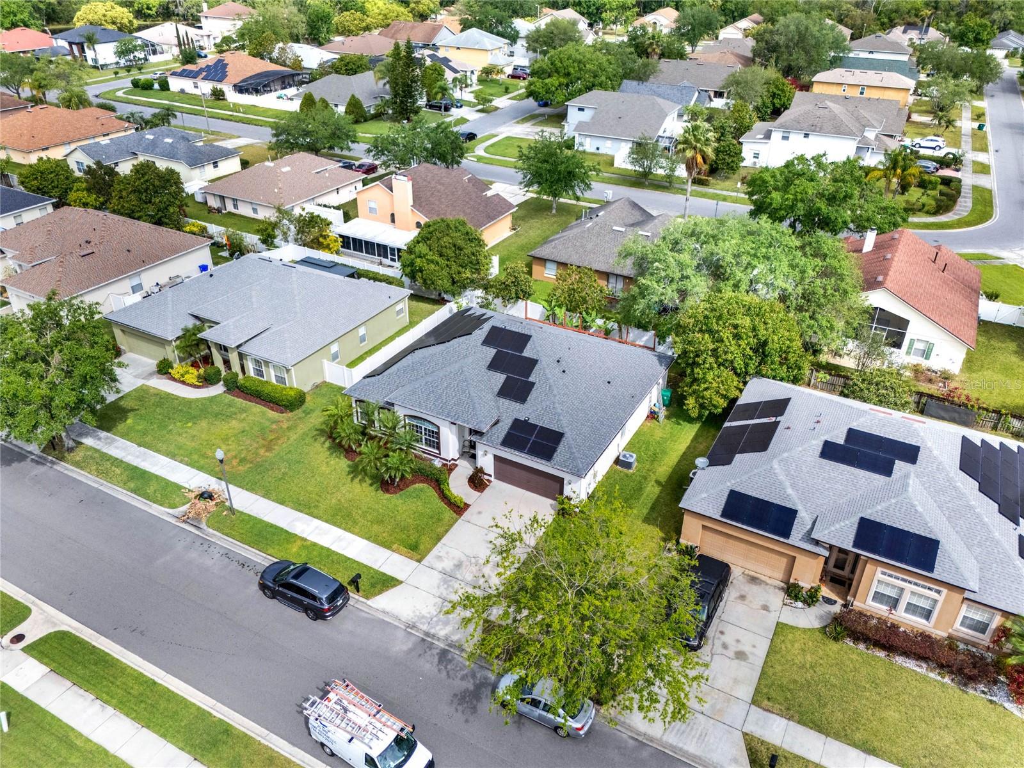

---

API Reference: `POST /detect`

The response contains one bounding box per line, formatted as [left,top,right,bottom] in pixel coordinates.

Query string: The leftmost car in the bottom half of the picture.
[257,558,354,622]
